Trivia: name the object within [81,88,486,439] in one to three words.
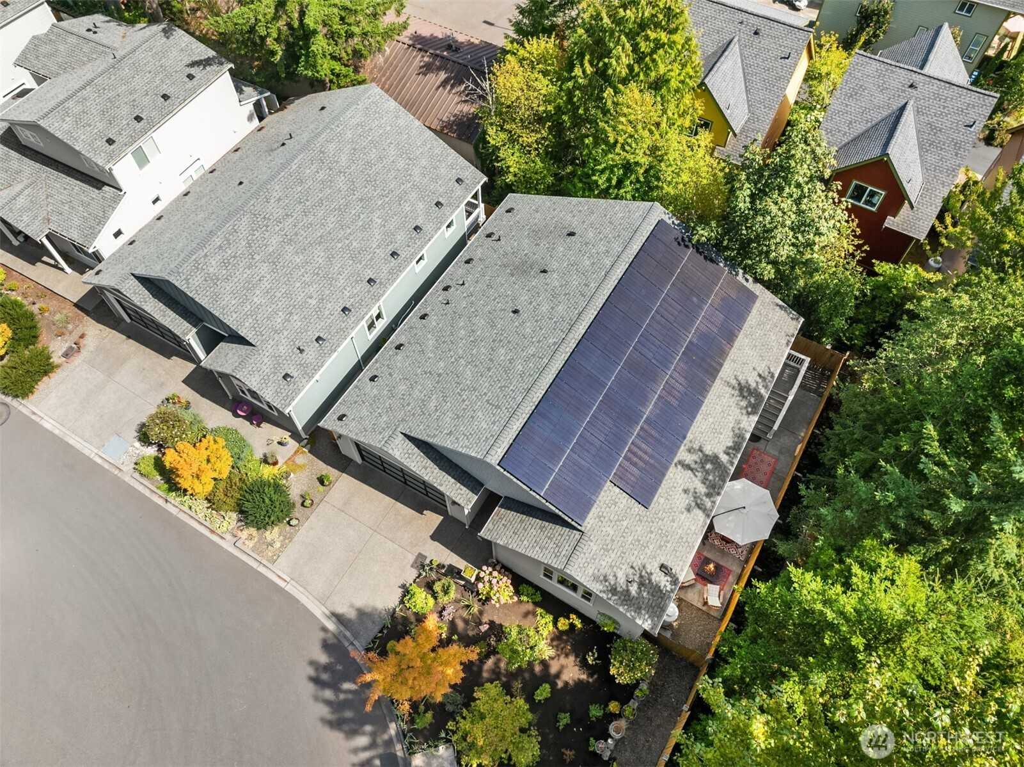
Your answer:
house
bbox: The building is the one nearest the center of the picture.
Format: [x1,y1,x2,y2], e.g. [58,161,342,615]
[316,192,805,638]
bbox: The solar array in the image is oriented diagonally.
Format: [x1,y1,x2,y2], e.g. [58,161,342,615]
[505,217,761,526]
